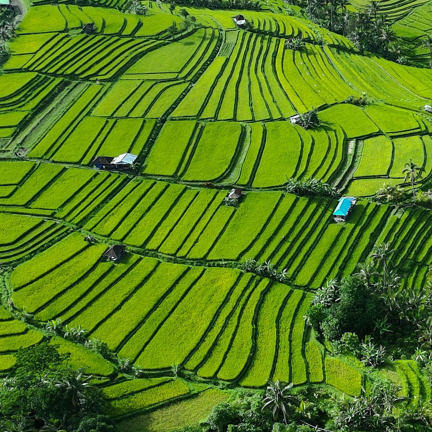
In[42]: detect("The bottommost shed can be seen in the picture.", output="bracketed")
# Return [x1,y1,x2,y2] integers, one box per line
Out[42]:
[101,245,130,263]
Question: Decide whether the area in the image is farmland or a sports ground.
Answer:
farmland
